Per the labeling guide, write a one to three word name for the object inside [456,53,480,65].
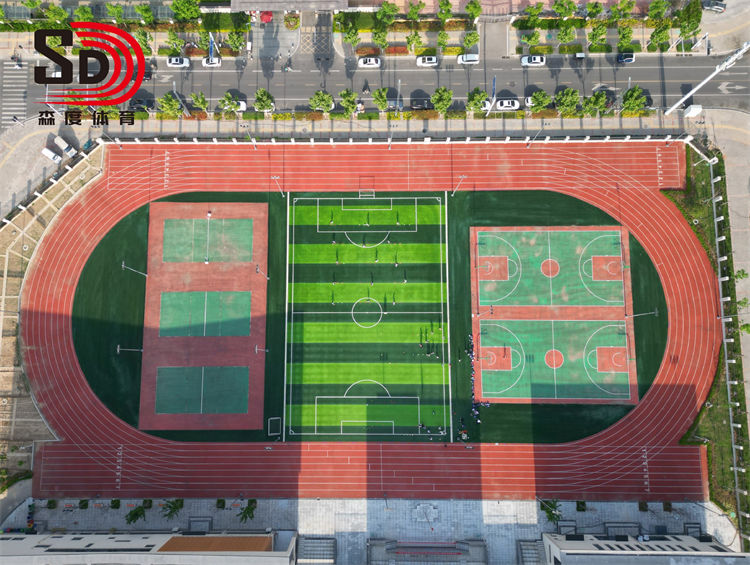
vehicle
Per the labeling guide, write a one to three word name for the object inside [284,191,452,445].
soccer field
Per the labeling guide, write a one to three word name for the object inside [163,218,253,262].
sports court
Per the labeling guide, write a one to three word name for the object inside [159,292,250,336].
sports court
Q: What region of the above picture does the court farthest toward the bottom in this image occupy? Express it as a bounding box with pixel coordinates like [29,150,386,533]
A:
[156,366,249,413]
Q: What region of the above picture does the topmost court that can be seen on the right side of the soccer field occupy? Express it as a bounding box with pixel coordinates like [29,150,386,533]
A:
[478,231,625,306]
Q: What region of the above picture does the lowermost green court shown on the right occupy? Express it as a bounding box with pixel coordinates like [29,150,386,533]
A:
[480,320,631,399]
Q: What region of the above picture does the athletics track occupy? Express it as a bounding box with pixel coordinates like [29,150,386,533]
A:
[17,141,723,501]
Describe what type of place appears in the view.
sports ground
